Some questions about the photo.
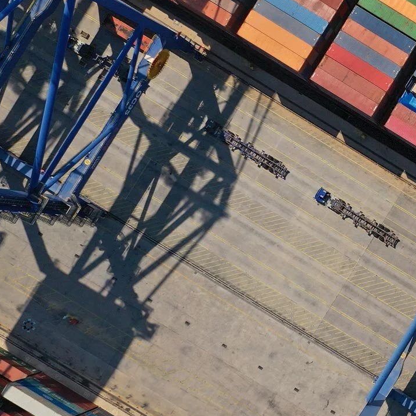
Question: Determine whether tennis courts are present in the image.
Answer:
No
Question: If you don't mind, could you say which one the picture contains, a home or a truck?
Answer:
truck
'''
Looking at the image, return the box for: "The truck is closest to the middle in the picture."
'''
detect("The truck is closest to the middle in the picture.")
[199,116,288,180]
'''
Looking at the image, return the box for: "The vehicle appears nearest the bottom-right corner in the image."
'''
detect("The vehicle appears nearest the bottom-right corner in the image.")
[311,185,399,249]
